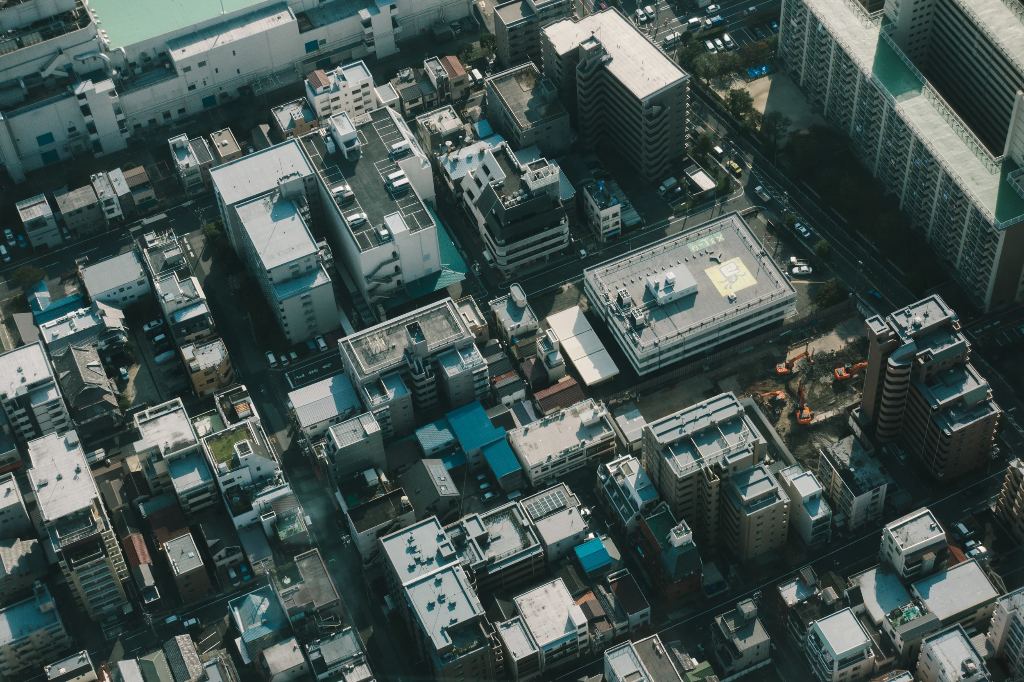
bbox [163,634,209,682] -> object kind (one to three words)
house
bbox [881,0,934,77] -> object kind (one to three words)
building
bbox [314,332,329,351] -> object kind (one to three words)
vehicle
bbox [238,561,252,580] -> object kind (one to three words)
car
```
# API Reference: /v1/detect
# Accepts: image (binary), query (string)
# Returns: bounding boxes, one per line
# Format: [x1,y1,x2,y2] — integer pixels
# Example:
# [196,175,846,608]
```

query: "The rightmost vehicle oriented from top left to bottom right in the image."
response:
[950,517,973,539]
